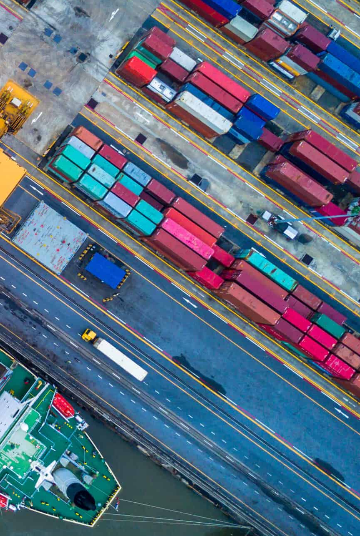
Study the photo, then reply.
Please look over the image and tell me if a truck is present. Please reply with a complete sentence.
Yes, this view includes a truck.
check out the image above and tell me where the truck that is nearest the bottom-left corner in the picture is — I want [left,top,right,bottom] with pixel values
[79,327,149,382]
